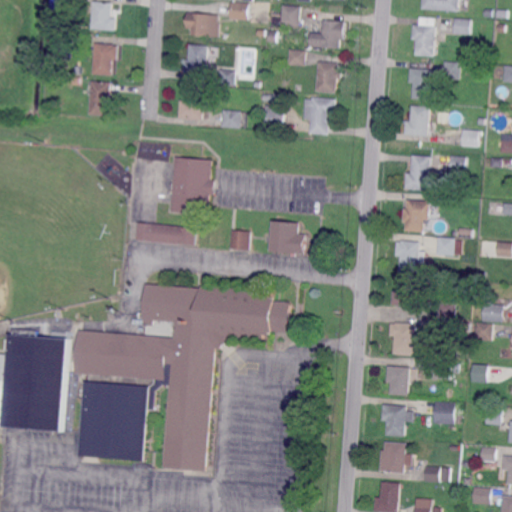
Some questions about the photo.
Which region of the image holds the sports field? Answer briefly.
left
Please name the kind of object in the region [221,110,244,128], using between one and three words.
building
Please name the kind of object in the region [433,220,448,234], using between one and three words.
swimming pool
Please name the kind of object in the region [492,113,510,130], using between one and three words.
swimming pool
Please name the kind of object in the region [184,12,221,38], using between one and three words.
house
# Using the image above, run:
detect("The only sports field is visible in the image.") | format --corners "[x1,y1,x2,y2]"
[0,144,124,320]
